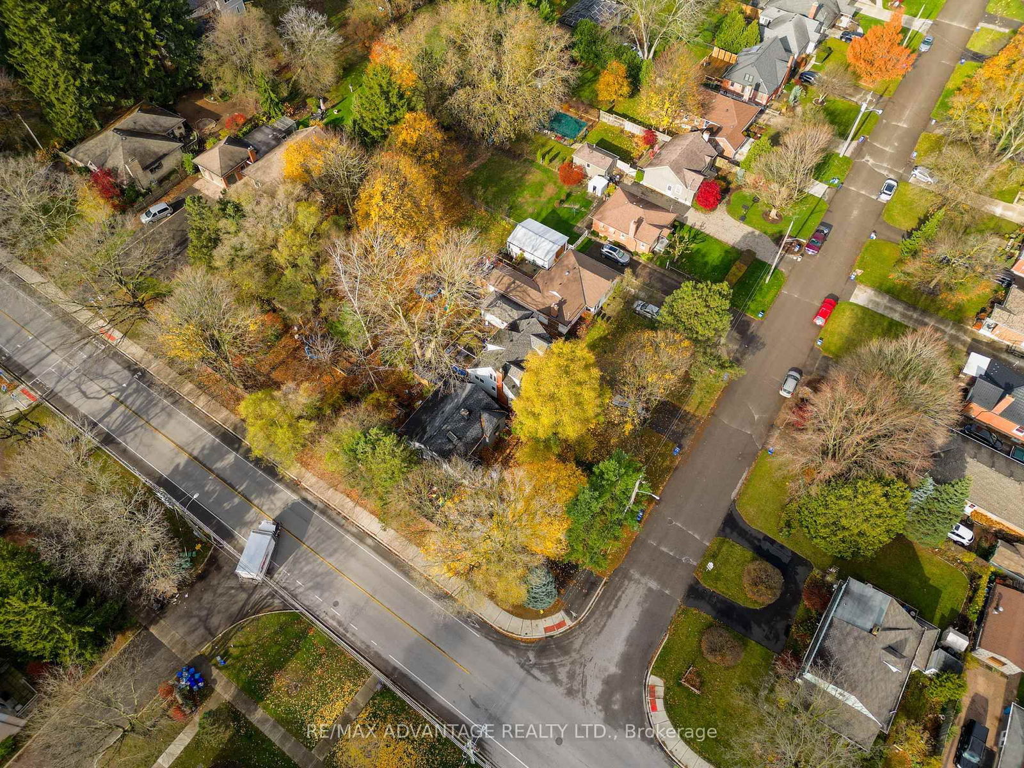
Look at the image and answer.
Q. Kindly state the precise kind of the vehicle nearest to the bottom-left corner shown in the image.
truck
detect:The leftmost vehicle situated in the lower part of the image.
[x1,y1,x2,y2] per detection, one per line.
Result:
[230,519,286,592]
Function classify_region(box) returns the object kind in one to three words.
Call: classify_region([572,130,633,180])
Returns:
building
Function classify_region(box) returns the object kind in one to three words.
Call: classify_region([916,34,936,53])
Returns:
car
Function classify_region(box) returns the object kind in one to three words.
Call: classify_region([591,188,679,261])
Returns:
house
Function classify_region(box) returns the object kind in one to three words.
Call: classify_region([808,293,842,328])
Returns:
truck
